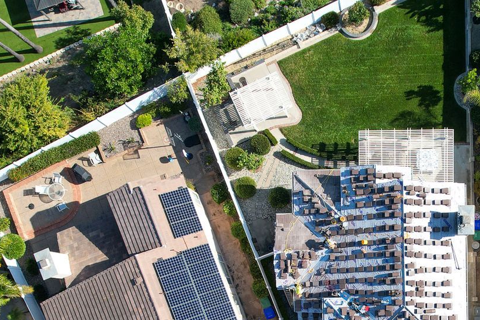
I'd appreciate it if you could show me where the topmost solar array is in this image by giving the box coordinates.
[159,188,202,238]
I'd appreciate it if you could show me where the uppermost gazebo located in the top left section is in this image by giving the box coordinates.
[34,0,92,23]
